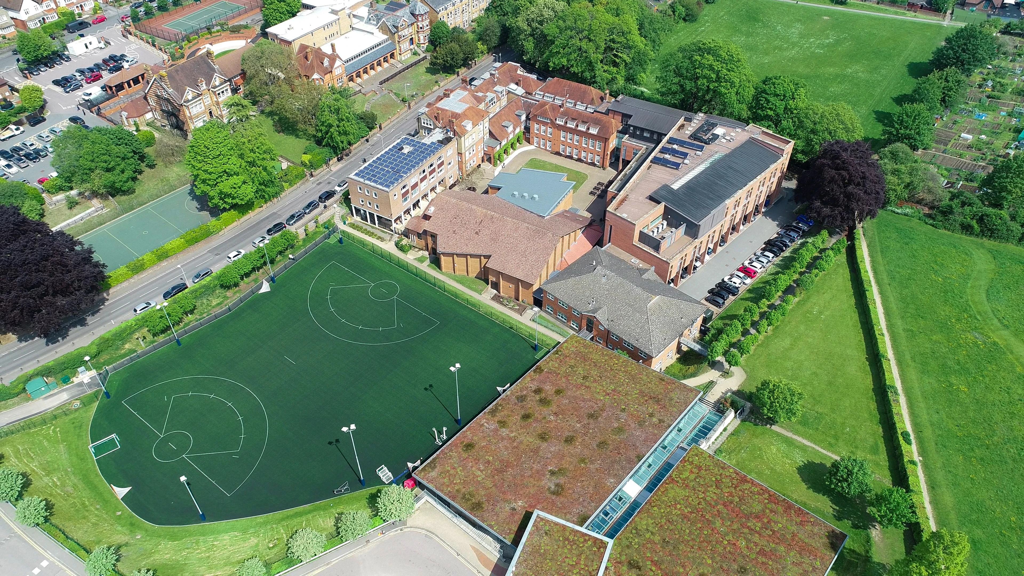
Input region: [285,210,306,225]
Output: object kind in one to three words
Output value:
car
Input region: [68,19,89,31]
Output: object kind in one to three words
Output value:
vehicle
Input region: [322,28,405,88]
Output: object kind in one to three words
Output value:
building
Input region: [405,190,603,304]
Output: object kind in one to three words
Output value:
building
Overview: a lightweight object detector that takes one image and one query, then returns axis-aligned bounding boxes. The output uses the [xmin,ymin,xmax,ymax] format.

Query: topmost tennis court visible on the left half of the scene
[134,0,259,40]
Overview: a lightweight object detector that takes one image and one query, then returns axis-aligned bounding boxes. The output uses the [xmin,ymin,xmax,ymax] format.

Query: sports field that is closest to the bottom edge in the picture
[89,230,549,526]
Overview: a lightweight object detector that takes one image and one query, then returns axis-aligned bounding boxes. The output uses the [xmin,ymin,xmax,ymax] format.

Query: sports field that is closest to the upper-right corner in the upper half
[631,0,954,153]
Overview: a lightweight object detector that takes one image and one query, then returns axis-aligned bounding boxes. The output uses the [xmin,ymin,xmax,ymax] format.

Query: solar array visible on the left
[351,136,446,188]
